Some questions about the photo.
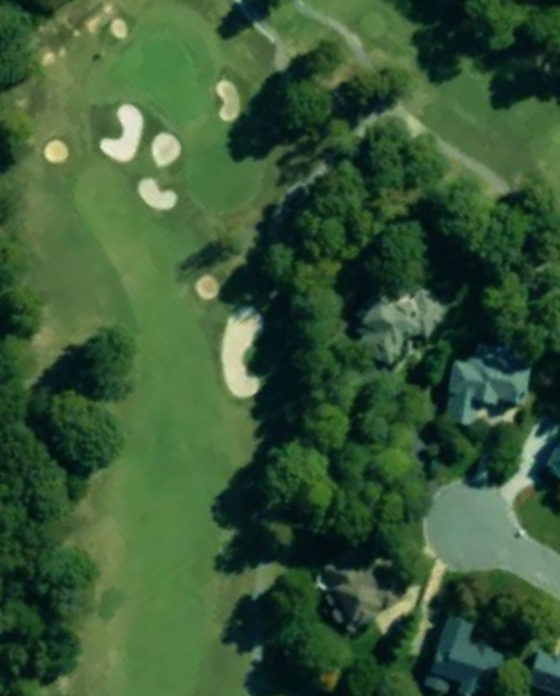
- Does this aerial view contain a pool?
No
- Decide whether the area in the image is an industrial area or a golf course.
golf course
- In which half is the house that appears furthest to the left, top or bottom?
bottom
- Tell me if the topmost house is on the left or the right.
right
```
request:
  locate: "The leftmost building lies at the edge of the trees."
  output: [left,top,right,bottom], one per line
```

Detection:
[315,560,394,637]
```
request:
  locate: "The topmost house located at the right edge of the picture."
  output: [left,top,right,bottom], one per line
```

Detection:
[447,345,535,425]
